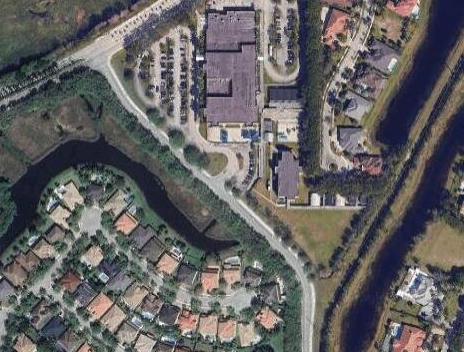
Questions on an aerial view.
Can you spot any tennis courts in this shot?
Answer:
No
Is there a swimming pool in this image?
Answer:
Yes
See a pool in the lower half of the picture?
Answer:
Yes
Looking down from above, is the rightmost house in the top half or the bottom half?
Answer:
bottom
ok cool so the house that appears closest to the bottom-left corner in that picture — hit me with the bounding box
[11,331,38,352]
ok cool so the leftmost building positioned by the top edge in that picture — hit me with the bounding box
[204,10,259,123]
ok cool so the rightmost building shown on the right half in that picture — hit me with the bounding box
[409,272,444,306]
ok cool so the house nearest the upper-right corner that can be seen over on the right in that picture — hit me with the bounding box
[388,0,423,20]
